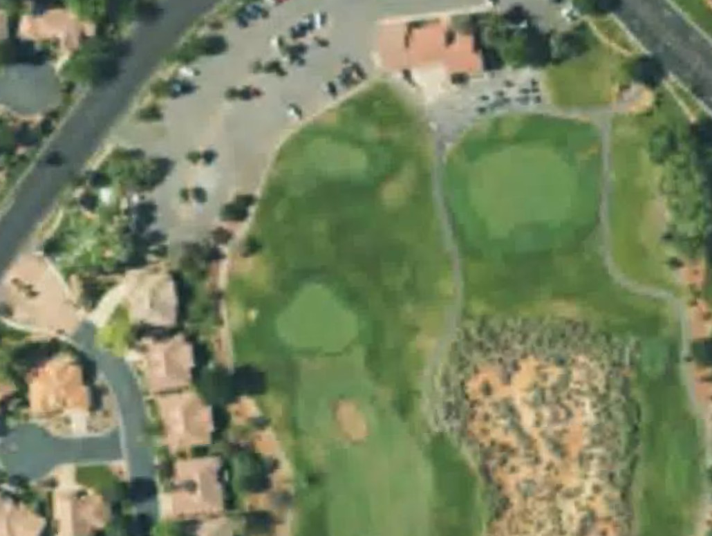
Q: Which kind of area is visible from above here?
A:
golf course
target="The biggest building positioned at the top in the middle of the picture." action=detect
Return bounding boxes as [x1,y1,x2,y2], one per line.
[377,19,485,80]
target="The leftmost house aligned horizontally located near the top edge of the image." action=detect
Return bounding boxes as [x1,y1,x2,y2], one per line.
[15,10,97,50]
